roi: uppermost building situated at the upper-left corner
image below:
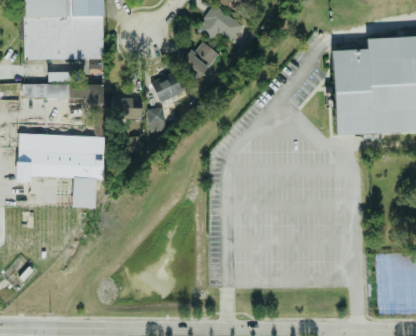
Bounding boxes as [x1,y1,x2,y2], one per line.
[24,0,104,60]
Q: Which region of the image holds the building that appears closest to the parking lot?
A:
top right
